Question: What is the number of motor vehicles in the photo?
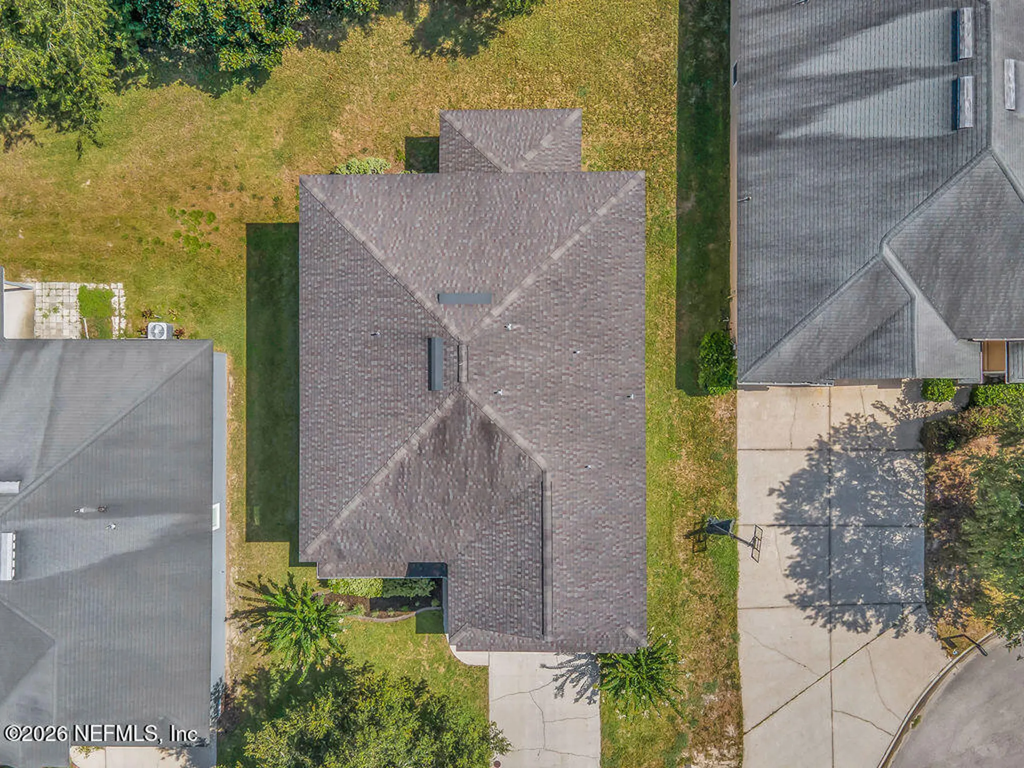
0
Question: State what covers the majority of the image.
buildings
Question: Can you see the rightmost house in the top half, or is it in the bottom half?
top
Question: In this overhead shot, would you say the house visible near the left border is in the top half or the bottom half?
bottom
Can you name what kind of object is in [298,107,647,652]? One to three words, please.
house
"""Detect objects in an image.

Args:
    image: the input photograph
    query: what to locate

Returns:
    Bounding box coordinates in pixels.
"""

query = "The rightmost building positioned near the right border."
[731,0,1024,385]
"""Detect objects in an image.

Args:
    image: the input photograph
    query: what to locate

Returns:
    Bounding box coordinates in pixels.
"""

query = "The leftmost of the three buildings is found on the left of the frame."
[0,265,227,768]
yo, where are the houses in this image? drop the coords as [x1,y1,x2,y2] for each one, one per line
[731,0,1024,385]
[0,265,227,768]
[298,107,647,652]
